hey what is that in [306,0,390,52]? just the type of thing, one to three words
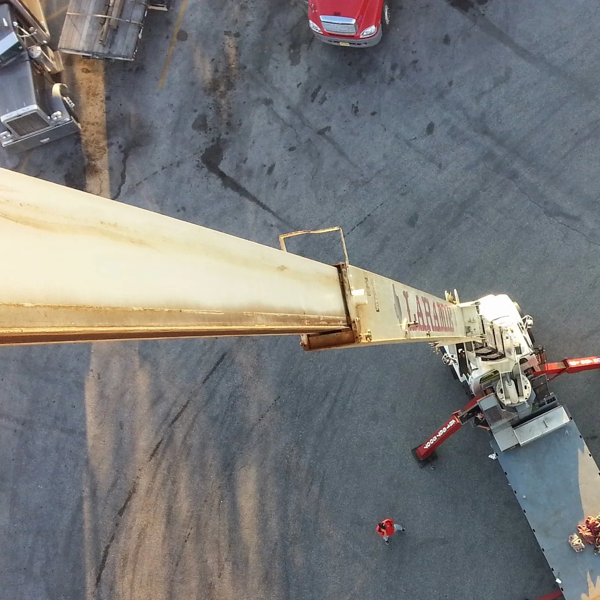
truck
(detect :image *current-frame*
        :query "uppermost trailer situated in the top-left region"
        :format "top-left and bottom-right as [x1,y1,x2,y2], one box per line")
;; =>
[57,0,172,65]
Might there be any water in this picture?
No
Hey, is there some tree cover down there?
No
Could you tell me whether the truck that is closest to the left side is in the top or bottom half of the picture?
top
